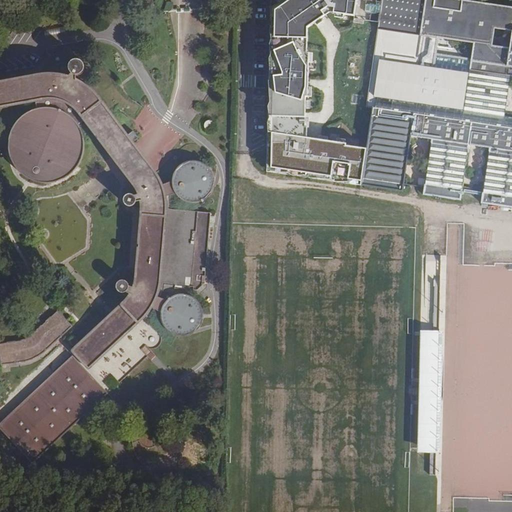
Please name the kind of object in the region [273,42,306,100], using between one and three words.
building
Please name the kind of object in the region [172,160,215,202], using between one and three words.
building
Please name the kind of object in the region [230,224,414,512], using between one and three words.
soccer field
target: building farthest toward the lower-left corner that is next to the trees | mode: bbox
[0,357,106,458]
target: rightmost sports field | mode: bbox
[444,224,512,512]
